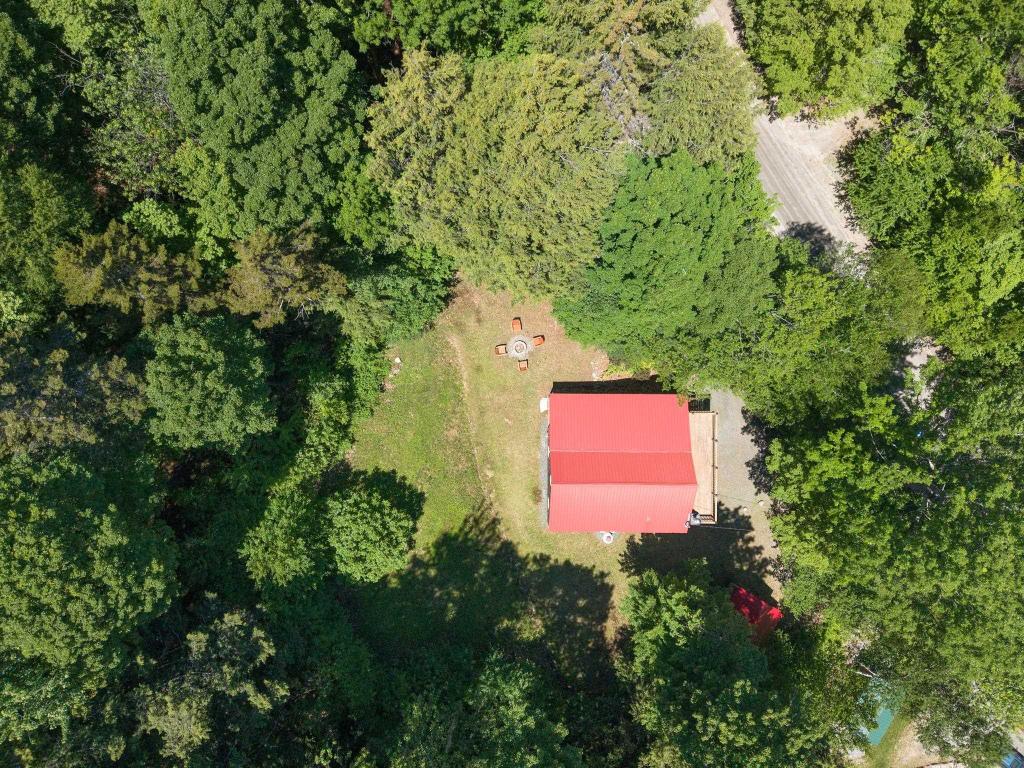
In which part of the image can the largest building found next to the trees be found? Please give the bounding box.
[549,393,697,533]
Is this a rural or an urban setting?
rural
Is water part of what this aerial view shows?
No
